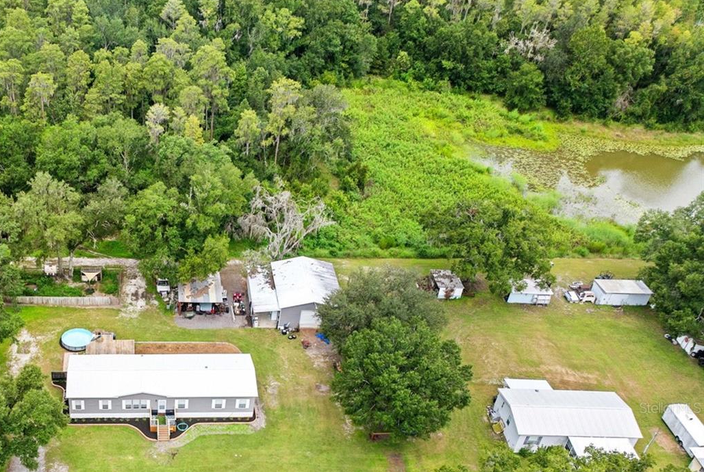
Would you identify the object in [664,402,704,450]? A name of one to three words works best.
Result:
trailer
